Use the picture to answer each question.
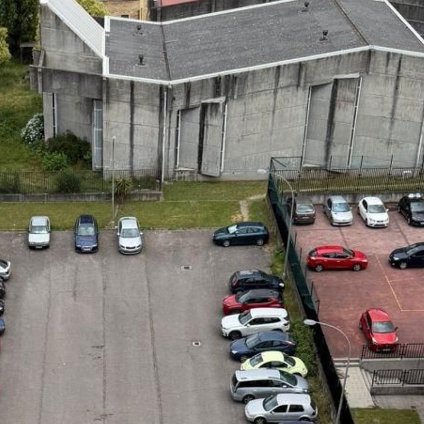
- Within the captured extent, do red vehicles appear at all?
Yes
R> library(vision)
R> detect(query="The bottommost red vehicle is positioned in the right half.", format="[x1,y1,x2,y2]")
[350,305,395,347]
